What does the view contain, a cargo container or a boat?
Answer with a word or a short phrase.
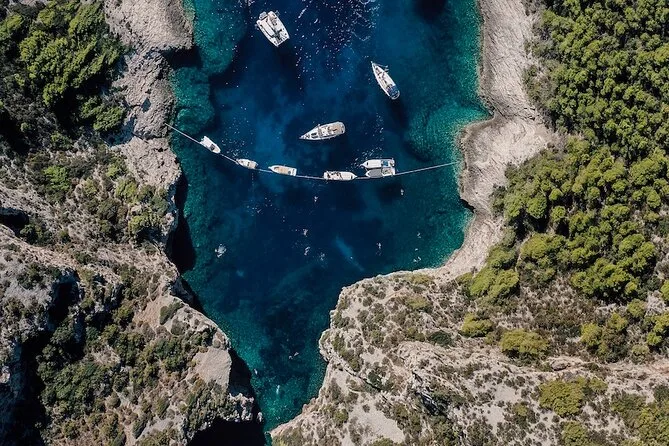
boat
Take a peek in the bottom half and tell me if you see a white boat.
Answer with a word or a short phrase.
No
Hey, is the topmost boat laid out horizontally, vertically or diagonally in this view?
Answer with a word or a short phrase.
diagonally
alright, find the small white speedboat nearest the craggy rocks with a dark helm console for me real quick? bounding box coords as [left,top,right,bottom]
[200,136,220,153]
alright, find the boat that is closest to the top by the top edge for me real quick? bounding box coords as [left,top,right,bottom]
[253,5,291,48]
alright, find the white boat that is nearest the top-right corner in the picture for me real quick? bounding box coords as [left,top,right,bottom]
[372,61,400,100]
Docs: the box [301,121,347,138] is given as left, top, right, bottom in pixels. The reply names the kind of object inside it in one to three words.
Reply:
boat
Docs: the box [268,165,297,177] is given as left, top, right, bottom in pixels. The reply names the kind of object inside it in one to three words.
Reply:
boat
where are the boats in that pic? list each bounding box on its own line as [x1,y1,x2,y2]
[372,61,400,100]
[321,170,357,180]
[237,159,259,169]
[268,165,297,177]
[361,158,397,168]
[253,5,291,48]
[200,136,220,153]
[366,167,397,178]
[301,121,347,138]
